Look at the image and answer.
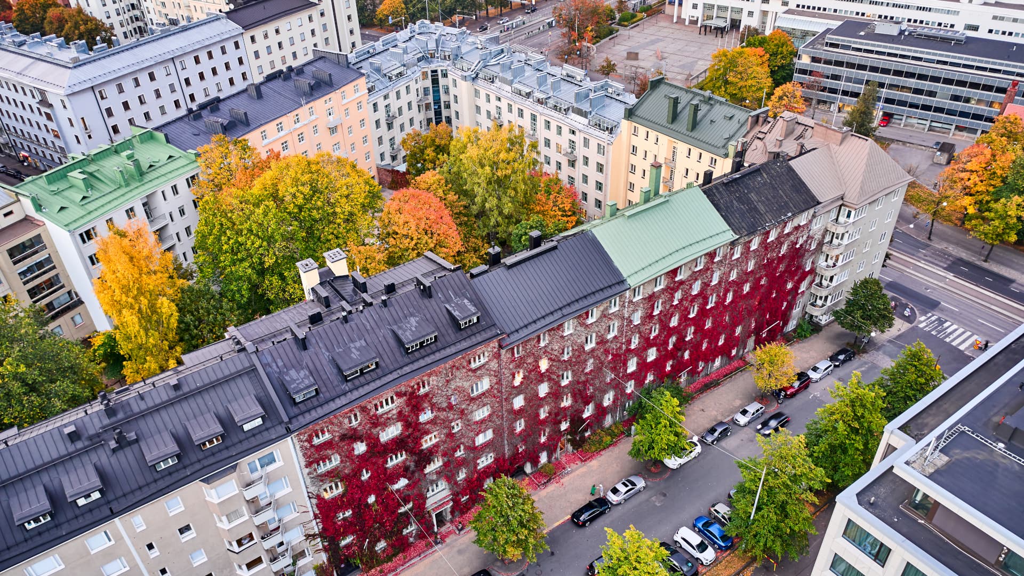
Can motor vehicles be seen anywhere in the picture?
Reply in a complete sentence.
Yes, there is a motor vehicle in the image.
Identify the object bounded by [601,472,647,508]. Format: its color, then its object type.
gray car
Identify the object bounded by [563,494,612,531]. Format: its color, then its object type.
black car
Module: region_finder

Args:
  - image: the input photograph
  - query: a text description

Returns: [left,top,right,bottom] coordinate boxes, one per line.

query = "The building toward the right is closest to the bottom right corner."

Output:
[812,318,1024,576]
